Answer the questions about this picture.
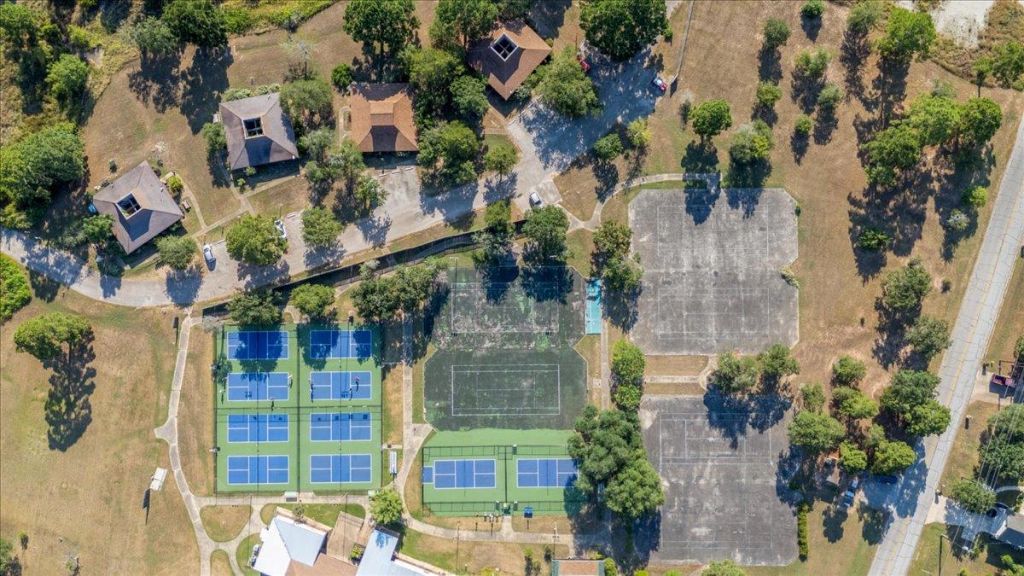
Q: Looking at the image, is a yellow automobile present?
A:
No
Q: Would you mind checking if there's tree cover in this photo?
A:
Yes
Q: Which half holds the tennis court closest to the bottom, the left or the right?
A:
right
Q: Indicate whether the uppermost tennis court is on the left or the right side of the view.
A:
right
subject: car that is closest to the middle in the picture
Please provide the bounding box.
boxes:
[528,189,544,209]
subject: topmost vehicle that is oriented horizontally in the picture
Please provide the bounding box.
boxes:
[992,374,1019,388]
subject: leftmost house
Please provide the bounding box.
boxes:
[93,161,185,254]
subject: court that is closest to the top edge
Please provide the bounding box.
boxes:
[629,188,799,266]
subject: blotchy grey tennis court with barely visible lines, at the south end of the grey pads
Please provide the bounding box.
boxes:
[643,481,798,566]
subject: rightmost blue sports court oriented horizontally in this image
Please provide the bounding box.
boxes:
[517,459,579,488]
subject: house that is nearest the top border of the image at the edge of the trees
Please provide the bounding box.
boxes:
[457,10,552,100]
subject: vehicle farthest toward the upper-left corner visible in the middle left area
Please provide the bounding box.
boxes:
[201,244,215,266]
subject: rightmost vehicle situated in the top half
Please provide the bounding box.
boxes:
[650,74,670,92]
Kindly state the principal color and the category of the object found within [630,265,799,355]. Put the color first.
gray tennis court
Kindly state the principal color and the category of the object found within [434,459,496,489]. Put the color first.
blue sports court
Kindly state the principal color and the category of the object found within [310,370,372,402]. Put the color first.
blue sports court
